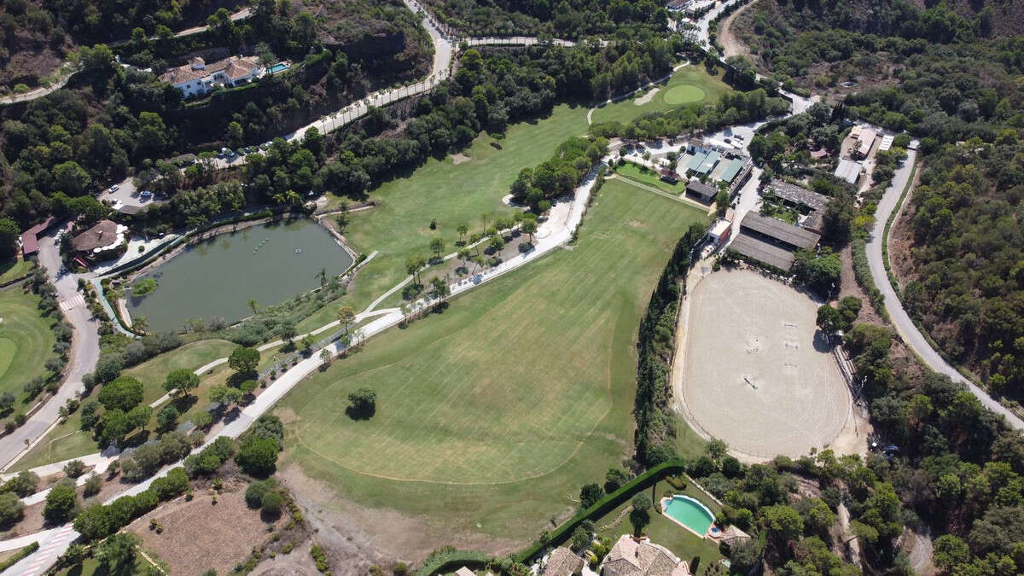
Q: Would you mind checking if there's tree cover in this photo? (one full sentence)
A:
Yes, the picture does contain tree cover.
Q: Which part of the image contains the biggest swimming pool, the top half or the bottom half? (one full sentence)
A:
It is in the bottom half that the biggest swimming pool appears.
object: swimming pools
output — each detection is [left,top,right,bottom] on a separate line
[660,491,716,536]
[707,524,722,537]
[267,62,288,73]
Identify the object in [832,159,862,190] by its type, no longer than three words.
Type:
shed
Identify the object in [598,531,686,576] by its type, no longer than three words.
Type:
house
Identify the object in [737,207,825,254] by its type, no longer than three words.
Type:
building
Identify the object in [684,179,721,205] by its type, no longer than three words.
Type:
shed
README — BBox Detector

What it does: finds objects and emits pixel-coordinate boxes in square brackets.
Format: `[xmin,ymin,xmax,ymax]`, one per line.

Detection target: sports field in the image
[277,175,709,566]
